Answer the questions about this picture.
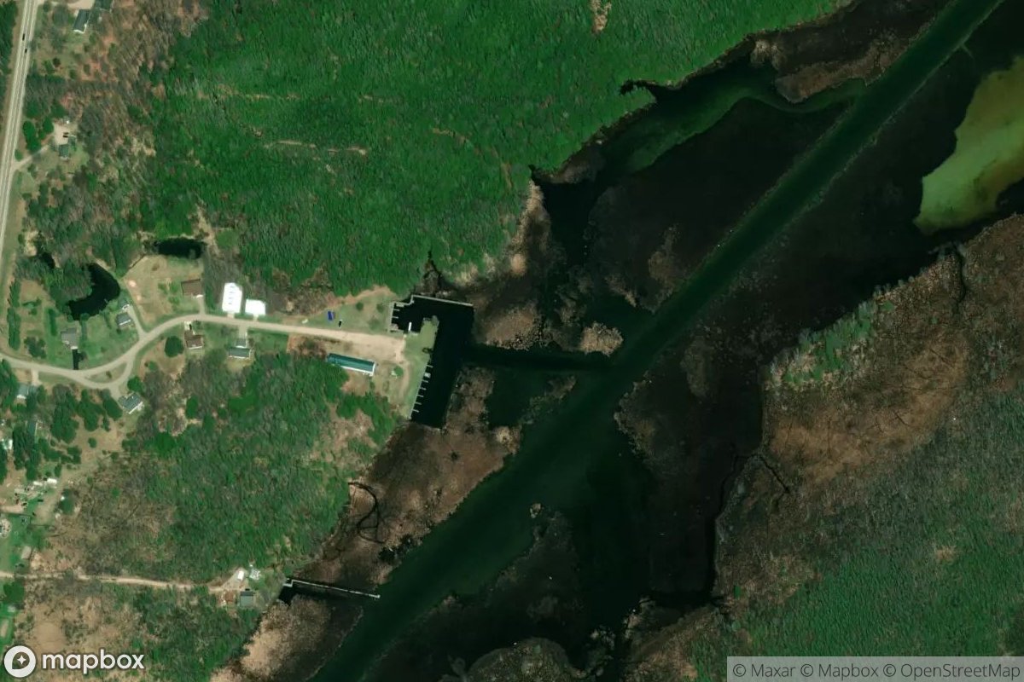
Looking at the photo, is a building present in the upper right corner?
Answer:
No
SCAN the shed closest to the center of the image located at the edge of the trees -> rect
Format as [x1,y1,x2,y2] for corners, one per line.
[327,354,376,375]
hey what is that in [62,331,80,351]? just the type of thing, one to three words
house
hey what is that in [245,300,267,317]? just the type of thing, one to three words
building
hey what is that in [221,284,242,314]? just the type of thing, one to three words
building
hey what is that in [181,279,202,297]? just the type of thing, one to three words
house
